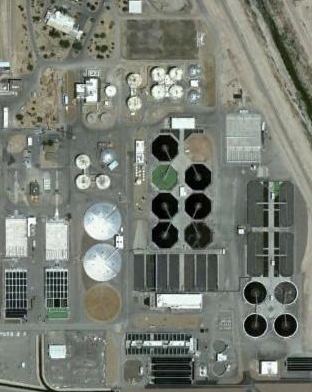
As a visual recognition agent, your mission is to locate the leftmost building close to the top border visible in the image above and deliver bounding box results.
[46,10,83,40]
